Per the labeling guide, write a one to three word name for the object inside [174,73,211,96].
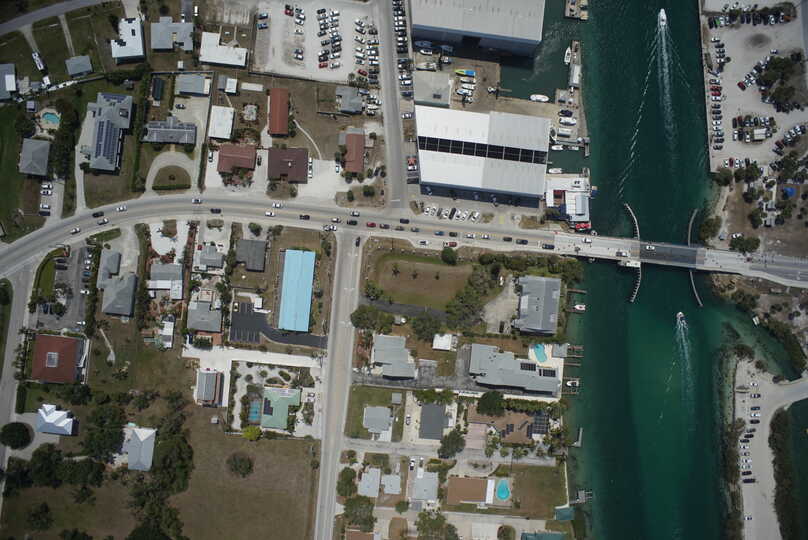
shed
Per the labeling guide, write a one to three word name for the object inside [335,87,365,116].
building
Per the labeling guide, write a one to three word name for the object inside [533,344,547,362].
swimming pool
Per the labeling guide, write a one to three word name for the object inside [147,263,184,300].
house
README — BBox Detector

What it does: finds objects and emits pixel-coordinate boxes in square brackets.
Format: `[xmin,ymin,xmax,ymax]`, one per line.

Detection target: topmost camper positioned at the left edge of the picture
[31,51,46,71]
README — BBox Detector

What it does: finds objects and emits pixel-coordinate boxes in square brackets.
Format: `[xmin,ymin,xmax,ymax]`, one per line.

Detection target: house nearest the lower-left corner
[36,401,77,435]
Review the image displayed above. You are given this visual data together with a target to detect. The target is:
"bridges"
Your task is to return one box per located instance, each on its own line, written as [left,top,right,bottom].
[548,231,757,276]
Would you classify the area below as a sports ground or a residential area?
residential area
